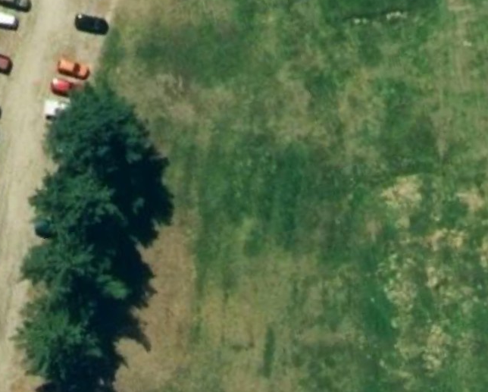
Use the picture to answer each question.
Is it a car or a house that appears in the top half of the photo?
car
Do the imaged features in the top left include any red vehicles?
Yes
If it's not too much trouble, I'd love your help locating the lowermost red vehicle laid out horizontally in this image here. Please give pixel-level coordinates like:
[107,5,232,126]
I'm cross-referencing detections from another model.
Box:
[49,76,82,95]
